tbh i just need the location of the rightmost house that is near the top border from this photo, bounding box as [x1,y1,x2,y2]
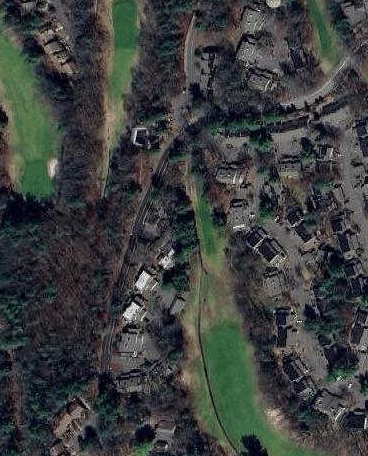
[342,0,368,25]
